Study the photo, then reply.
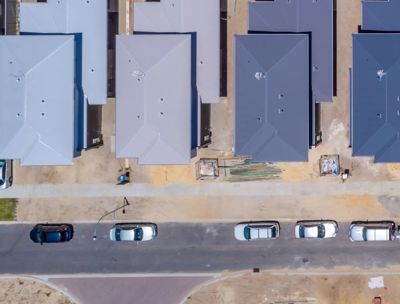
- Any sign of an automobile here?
Yes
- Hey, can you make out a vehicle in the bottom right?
Yes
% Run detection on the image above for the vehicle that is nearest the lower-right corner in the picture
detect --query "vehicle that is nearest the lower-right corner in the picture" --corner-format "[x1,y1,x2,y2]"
[348,221,395,243]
